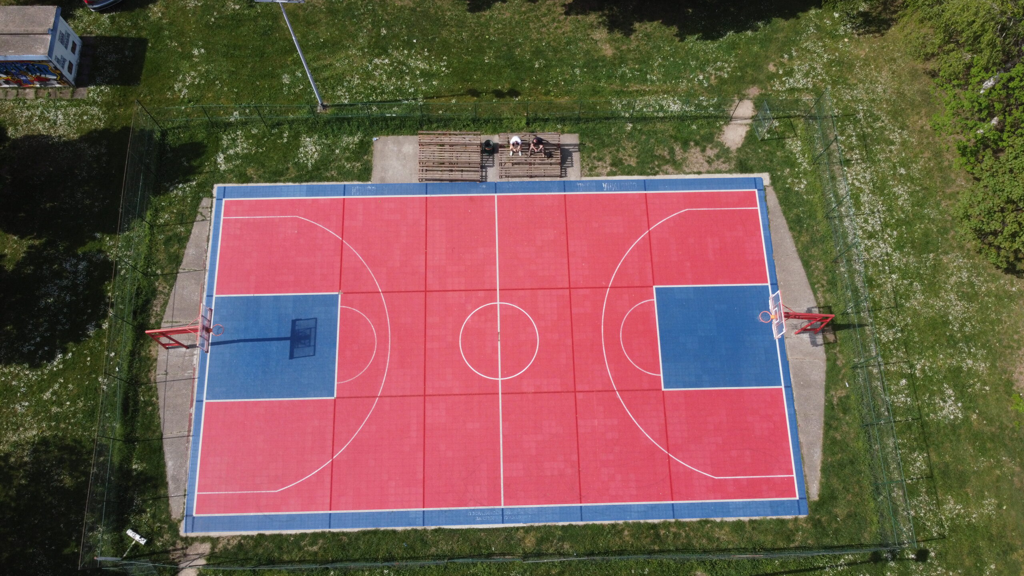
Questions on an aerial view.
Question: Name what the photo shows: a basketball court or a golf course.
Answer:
basketball court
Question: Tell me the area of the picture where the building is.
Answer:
top left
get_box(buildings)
[0,3,83,87]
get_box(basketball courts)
[184,177,809,532]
